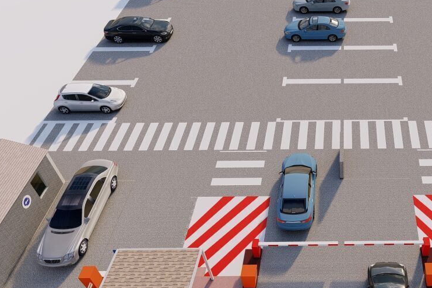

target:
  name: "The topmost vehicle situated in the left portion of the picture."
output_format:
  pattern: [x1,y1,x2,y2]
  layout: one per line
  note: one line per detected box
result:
[104,18,174,44]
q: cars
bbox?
[283,16,347,43]
[276,152,318,229]
[52,83,127,115]
[104,18,174,44]
[292,0,351,14]
[35,160,120,268]
[365,263,416,288]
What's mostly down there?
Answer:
paved ground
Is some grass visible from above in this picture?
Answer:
No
